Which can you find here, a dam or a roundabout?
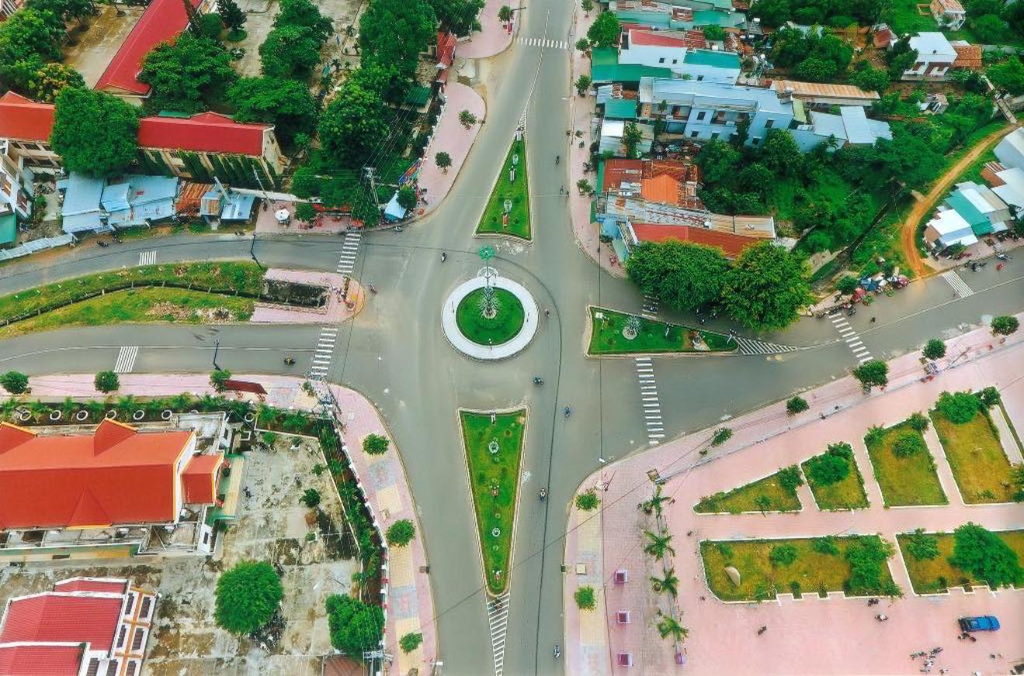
roundabout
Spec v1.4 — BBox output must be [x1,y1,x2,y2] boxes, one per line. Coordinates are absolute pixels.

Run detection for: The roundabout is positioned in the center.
[441,276,540,360]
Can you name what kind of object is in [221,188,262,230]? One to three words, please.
shed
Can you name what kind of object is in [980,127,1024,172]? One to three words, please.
house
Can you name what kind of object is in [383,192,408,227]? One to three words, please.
tent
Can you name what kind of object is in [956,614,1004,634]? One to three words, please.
vehicle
